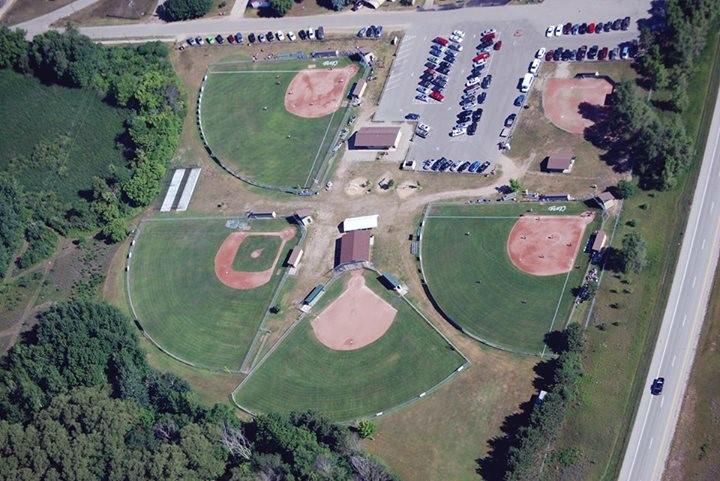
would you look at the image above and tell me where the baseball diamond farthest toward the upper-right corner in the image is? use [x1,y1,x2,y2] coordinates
[541,77,615,134]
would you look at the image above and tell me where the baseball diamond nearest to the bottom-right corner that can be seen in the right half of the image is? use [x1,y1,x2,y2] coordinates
[420,203,605,356]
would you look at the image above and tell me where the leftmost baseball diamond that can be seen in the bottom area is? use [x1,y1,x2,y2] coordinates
[127,217,306,372]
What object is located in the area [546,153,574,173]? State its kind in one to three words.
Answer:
building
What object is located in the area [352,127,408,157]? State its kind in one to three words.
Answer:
building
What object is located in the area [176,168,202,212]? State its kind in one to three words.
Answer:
shed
